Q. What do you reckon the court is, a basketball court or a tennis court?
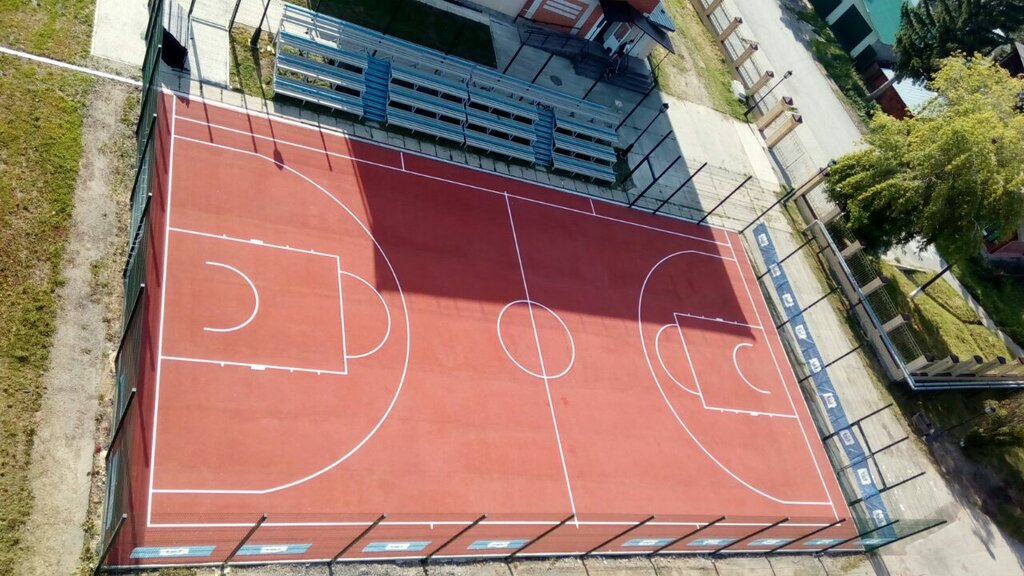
basketball court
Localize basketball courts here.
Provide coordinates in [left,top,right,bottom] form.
[101,89,866,575]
